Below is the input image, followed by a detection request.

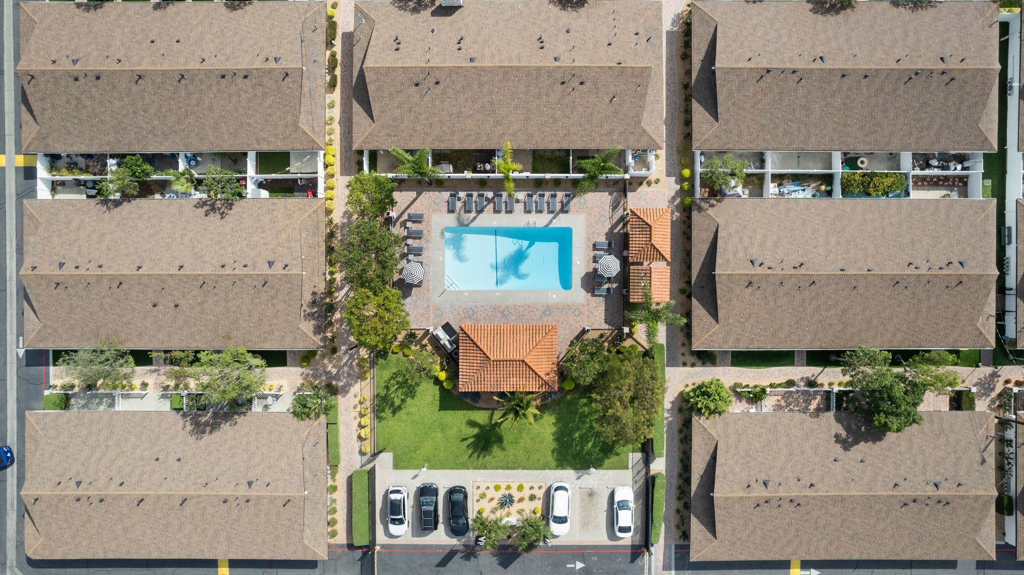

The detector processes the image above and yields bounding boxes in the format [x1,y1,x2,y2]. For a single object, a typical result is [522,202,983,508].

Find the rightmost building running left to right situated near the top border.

[692,0,1011,154]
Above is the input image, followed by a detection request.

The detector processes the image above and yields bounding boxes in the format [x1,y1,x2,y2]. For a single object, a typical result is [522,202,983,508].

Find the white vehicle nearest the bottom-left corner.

[385,484,409,535]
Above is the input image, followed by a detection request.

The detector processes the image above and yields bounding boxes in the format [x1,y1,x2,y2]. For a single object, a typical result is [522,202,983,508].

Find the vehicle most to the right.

[612,484,636,537]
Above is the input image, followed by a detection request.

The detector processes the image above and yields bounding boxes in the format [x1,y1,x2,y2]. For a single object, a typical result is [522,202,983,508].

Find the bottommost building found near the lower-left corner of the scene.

[19,410,328,561]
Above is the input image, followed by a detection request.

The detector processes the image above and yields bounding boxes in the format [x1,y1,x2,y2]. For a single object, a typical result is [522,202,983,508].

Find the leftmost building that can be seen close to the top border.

[14,0,326,154]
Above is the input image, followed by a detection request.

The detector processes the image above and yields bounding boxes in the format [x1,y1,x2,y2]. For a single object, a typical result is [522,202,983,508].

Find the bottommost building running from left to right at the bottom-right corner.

[690,410,1008,562]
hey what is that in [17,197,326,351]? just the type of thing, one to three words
building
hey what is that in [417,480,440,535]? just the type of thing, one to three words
car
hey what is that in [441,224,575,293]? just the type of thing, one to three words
swimming pool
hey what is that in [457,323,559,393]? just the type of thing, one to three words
gazebo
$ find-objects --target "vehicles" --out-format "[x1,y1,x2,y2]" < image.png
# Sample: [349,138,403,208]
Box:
[612,484,636,537]
[385,484,409,535]
[0,445,18,467]
[548,481,573,535]
[446,483,470,535]
[417,480,440,535]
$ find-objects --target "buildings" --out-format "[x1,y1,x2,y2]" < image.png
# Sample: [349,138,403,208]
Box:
[17,197,326,351]
[629,266,672,303]
[692,0,1011,154]
[691,197,1006,351]
[352,0,663,151]
[628,207,672,263]
[1003,197,1024,350]
[690,410,1008,562]
[19,410,328,561]
[1003,410,1024,562]
[14,0,326,154]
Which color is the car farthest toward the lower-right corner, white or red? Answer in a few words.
white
